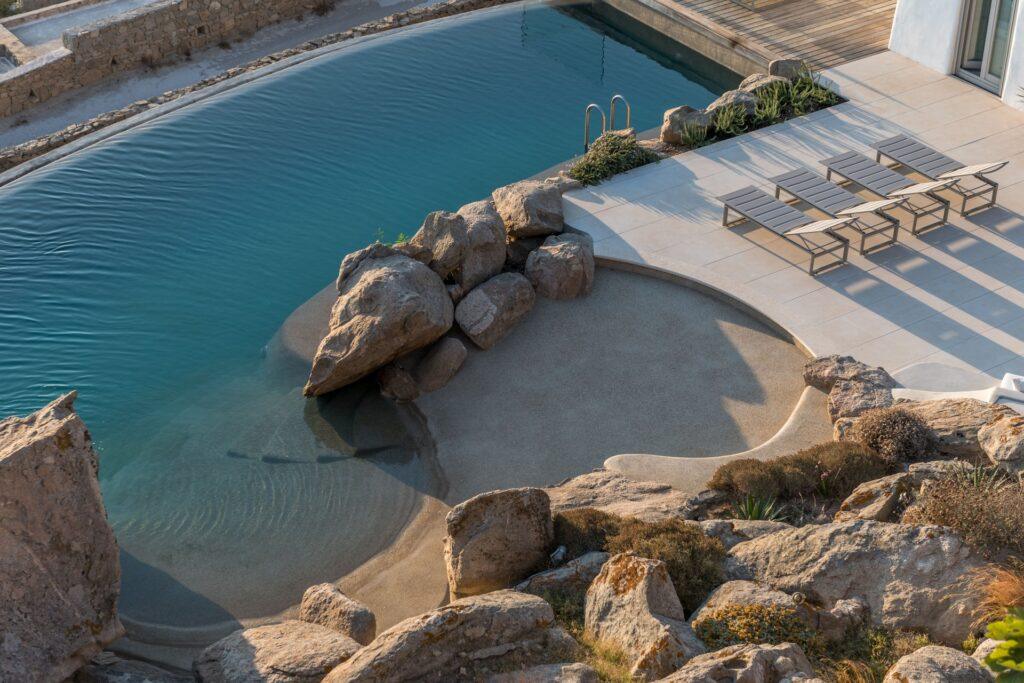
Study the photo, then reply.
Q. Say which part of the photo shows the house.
top right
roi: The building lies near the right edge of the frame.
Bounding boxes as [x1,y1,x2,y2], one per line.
[892,0,1024,112]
